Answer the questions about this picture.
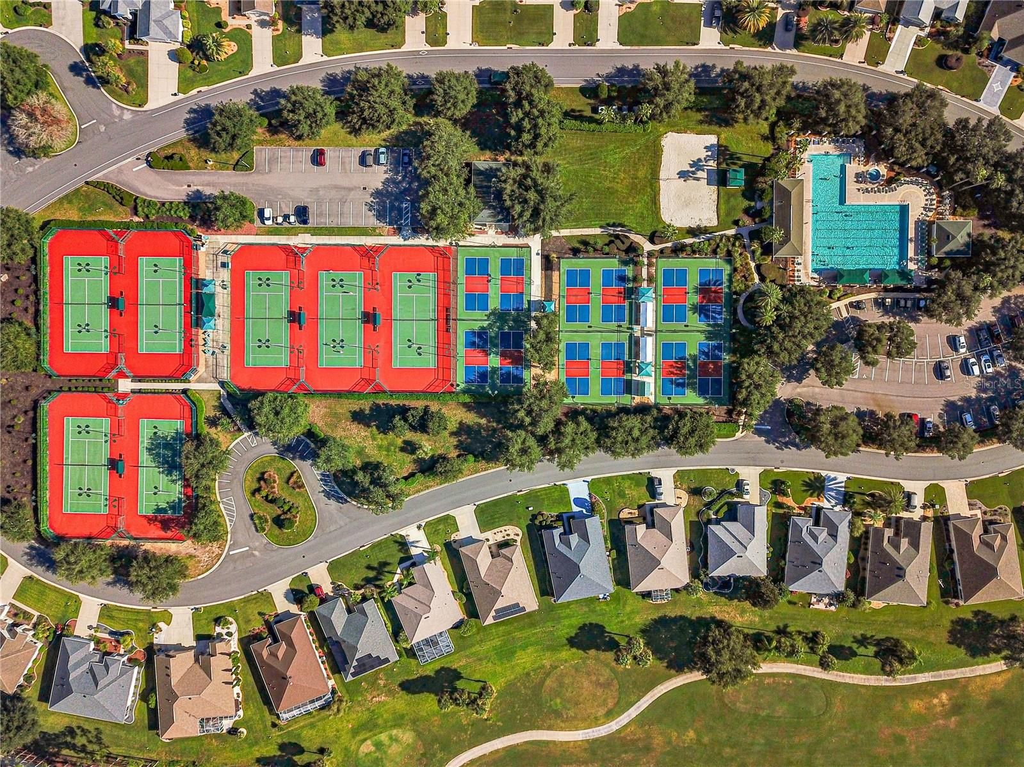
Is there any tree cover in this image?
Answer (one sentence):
Yes, tree cover shows up in the scene.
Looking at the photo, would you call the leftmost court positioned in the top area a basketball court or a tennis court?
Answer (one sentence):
Specifically, the leftmost court positioned in the top area is a tennis court.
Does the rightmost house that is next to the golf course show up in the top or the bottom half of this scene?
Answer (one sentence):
The rightmost house that is next to the golf course is in the bottom half of the image.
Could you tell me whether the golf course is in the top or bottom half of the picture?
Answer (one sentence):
The golf course sits in the bottom half of the picture.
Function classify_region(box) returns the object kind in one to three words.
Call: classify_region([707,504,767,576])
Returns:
house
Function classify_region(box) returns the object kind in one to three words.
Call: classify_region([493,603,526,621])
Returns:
solar panel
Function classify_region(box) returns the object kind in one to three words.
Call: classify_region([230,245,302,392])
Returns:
tennis court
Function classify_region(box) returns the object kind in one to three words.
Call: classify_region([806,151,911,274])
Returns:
swimming pool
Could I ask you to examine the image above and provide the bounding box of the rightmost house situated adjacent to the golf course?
[948,517,1023,605]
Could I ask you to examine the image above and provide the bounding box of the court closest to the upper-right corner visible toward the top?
[655,132,726,227]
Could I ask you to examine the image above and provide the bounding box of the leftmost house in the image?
[0,627,44,695]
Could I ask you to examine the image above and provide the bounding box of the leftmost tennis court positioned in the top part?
[48,230,122,377]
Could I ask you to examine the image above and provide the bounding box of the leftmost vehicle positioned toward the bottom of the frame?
[313,581,326,601]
